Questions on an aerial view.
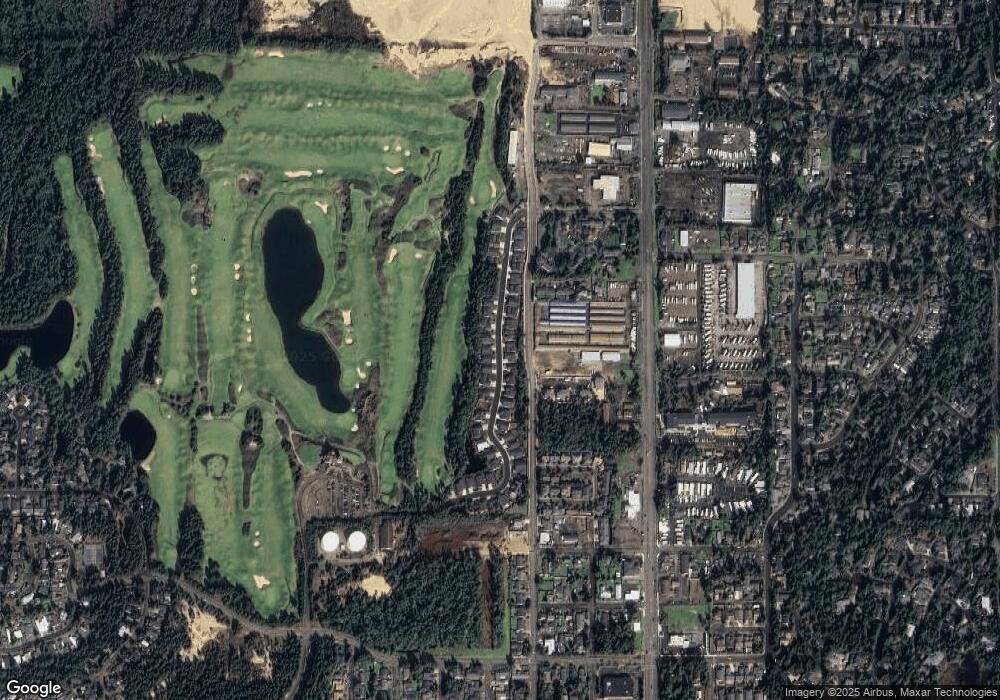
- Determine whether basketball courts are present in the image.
No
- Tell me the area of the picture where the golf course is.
left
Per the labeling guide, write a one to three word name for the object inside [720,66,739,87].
shed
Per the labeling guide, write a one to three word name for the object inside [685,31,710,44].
building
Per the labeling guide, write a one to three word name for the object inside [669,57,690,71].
building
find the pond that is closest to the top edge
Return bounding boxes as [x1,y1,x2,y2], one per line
[0,301,73,369]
